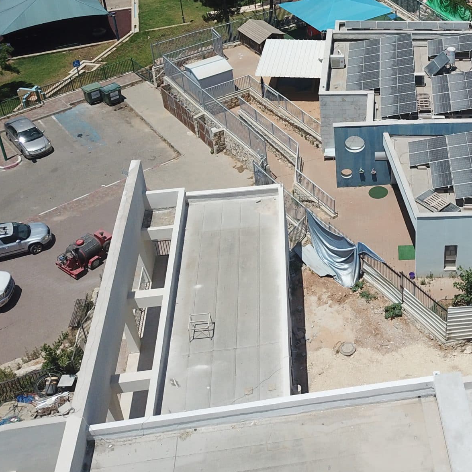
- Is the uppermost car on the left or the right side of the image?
left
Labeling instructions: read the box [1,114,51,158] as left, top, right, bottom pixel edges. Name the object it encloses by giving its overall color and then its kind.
gray car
